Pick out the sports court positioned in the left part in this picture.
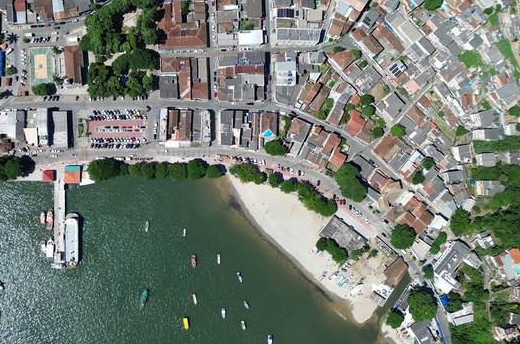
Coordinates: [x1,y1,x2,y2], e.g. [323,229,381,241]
[29,46,53,83]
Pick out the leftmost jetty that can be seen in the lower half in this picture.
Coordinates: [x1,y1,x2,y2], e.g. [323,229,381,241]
[53,179,67,268]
